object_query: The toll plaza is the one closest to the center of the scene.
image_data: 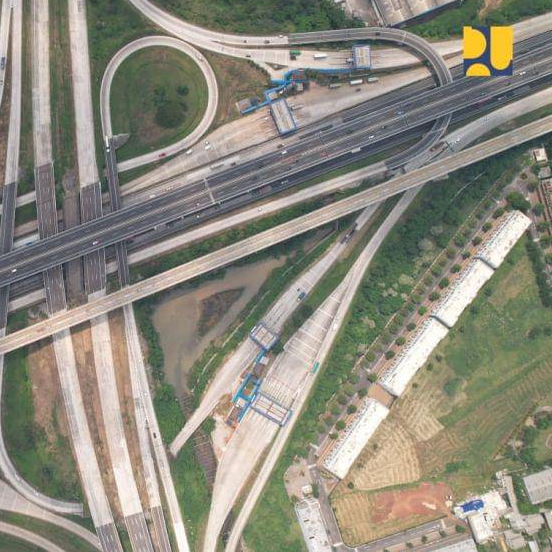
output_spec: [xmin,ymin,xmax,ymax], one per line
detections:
[233,258,330,367]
